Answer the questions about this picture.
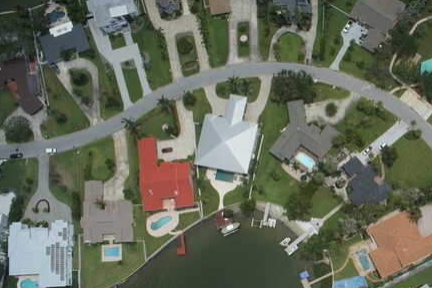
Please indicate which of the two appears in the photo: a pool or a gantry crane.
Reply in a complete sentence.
This aerial view contains a pool.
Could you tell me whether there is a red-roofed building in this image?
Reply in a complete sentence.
Yes, the frame does contain a red-roofed building.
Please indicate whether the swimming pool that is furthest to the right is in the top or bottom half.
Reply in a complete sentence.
The swimming pool that is furthest to the right is in the bottom half of the image.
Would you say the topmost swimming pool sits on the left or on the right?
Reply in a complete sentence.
It is on the left.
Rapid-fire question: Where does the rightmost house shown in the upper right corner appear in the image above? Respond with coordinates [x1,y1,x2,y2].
[351,0,406,52]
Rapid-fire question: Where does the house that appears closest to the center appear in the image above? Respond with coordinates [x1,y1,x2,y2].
[195,94,258,174]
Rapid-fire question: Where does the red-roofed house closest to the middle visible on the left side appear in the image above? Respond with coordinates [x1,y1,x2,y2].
[137,137,194,211]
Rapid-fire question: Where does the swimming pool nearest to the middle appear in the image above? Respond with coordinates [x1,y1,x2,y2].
[206,169,240,197]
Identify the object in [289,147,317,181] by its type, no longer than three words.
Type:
swimming pool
